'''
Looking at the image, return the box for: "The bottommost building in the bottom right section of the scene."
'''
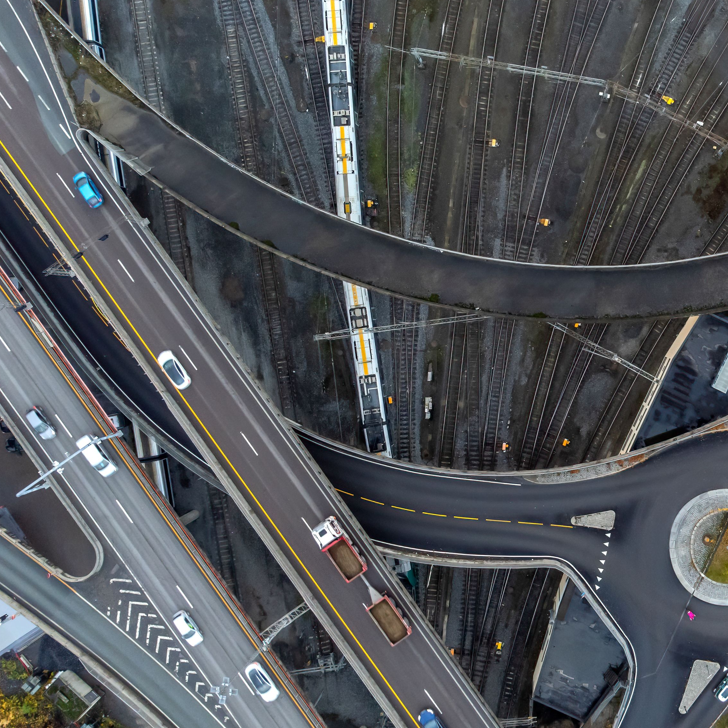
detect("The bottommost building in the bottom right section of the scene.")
[533,577,627,721]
